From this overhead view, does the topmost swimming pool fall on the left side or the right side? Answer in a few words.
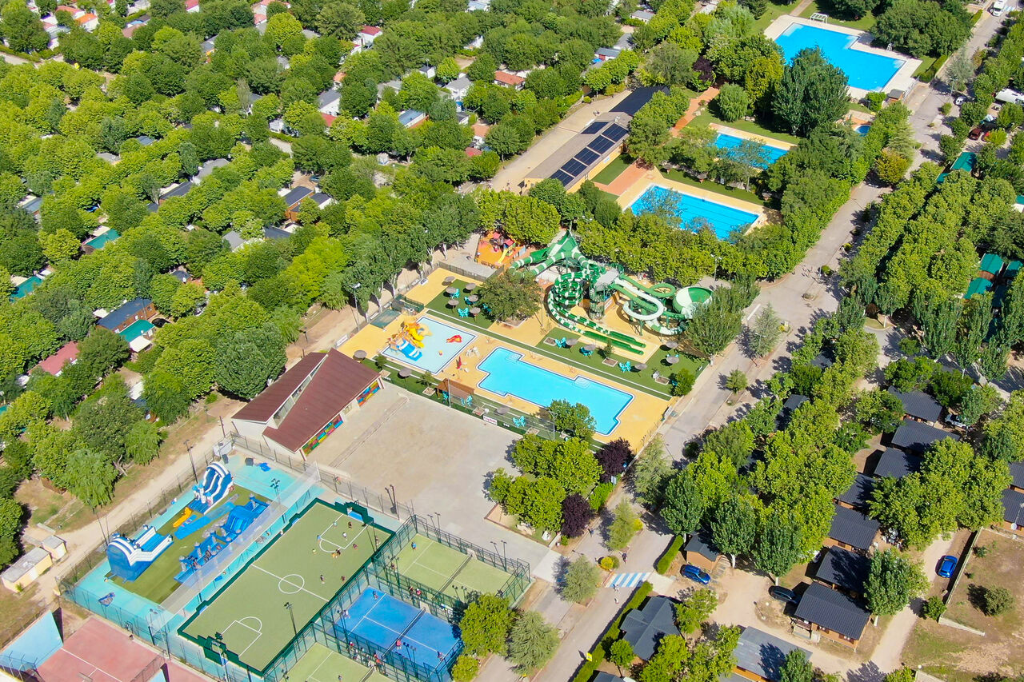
right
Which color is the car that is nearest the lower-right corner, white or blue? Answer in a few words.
blue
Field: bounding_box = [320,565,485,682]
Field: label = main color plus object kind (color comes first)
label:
blue sports court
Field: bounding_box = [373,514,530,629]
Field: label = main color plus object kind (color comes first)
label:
green sports court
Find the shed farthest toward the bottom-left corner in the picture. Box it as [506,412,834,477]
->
[0,546,55,595]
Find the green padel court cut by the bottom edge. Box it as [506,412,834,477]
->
[262,622,431,682]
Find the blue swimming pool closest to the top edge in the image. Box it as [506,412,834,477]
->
[759,21,909,93]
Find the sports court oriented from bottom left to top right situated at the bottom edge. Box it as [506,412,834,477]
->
[180,496,392,672]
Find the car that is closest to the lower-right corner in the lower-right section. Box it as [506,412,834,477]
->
[937,553,958,576]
